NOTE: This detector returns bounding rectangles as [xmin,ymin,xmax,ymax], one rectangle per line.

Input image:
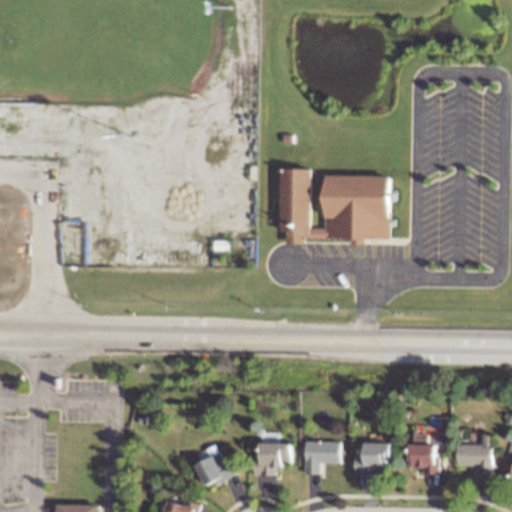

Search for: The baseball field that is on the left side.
[0,0,222,106]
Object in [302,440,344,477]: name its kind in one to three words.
house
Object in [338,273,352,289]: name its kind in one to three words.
vehicle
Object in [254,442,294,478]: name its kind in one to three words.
house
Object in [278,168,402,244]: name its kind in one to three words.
building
